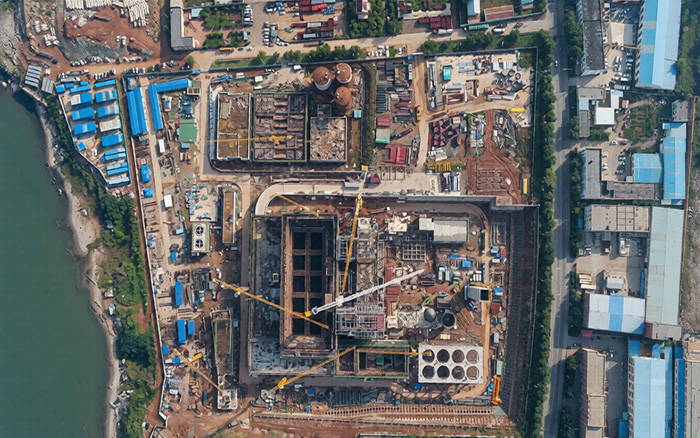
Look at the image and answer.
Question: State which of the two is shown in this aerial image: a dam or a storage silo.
storage silo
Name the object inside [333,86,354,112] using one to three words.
silo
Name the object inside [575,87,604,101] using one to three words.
building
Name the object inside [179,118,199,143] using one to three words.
shed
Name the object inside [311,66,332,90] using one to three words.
silo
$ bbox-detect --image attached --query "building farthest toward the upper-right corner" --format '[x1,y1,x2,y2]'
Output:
[630,0,678,92]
